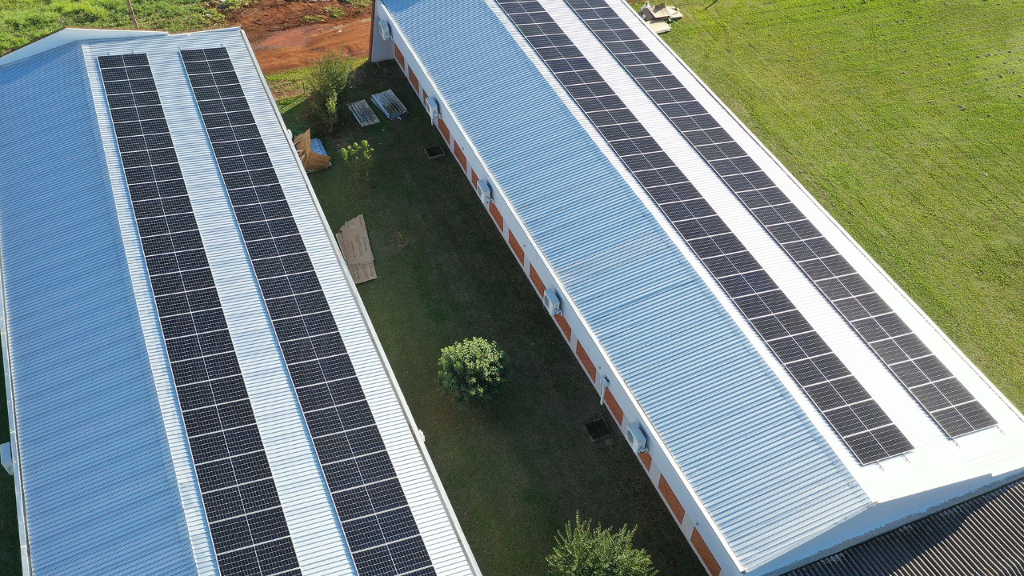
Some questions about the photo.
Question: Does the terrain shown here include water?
No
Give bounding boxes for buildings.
[370,0,1024,576]
[0,25,482,576]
